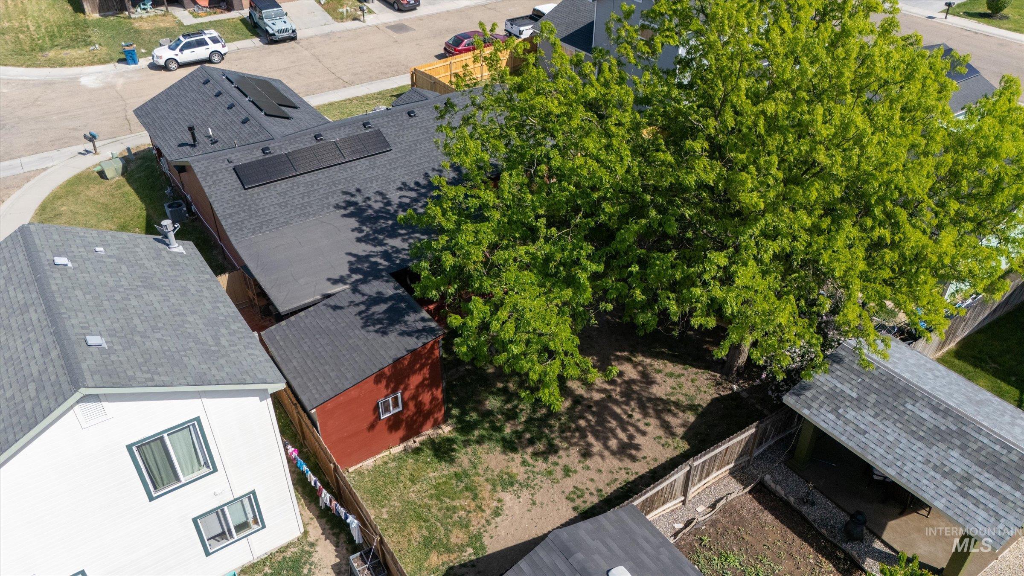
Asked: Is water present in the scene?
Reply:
No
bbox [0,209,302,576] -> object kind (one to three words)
house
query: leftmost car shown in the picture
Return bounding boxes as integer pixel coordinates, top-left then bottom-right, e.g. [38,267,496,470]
[149,29,230,71]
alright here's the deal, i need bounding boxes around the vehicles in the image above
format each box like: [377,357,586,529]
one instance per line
[509,1,562,38]
[379,0,422,10]
[249,1,293,40]
[436,25,505,56]
[149,29,230,71]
